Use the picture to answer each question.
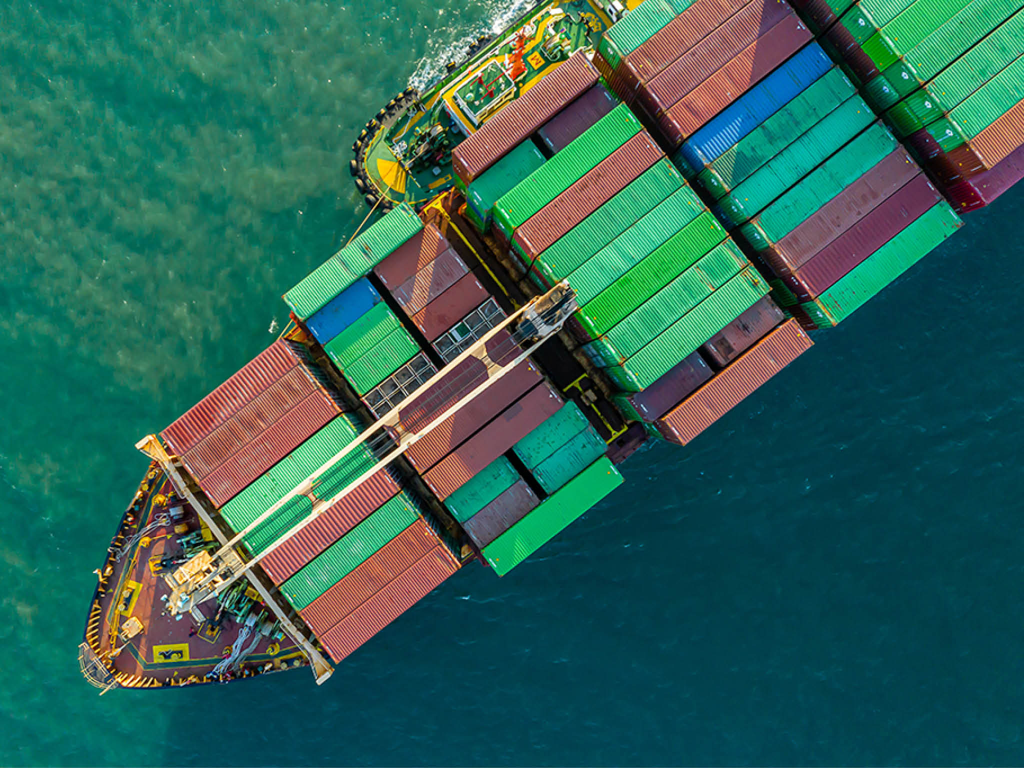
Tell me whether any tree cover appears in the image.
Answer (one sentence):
No, no tree cover is visible.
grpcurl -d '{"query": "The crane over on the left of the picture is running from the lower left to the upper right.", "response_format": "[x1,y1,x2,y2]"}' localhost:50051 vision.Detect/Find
[156,277,580,627]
